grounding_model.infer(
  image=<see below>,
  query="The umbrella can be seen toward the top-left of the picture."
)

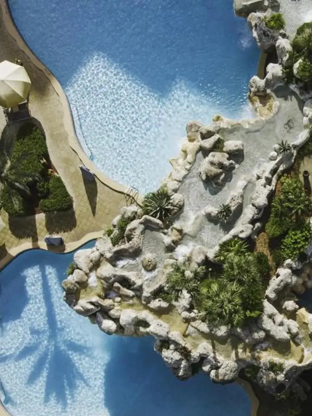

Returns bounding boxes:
[0,61,33,110]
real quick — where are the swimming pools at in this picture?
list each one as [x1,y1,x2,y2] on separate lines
[4,0,254,196]
[0,249,253,416]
